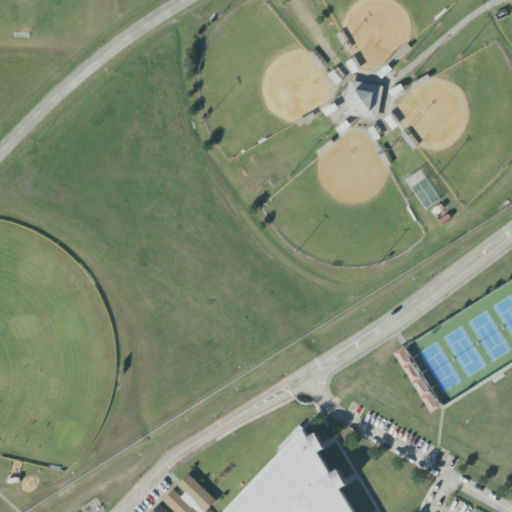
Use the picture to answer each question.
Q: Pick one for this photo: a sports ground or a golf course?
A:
sports ground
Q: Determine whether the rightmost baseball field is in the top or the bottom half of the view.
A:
top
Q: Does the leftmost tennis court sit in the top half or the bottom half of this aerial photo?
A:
bottom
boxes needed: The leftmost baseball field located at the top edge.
[199,0,337,159]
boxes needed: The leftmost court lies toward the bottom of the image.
[420,341,462,392]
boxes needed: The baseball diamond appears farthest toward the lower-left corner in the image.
[0,220,116,470]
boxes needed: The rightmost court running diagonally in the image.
[470,311,510,361]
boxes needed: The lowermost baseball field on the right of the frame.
[264,128,424,267]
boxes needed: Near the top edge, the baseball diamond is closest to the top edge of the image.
[324,0,458,72]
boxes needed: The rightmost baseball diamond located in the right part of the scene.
[394,40,512,206]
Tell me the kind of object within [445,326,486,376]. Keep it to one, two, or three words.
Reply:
tennis court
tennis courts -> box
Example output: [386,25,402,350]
[420,341,462,392]
[445,326,486,376]
[494,296,512,336]
[470,311,510,361]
